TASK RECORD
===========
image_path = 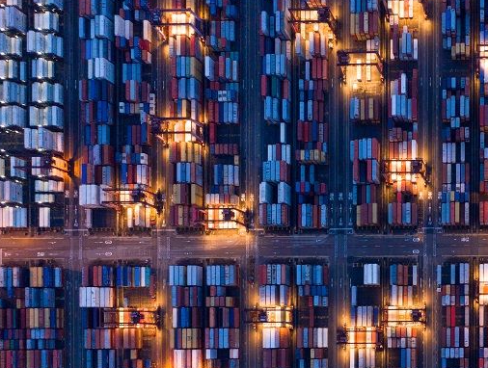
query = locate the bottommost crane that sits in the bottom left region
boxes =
[100,307,163,327]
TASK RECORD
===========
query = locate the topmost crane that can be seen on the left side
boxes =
[148,8,205,41]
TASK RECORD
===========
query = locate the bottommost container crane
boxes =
[335,327,382,346]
